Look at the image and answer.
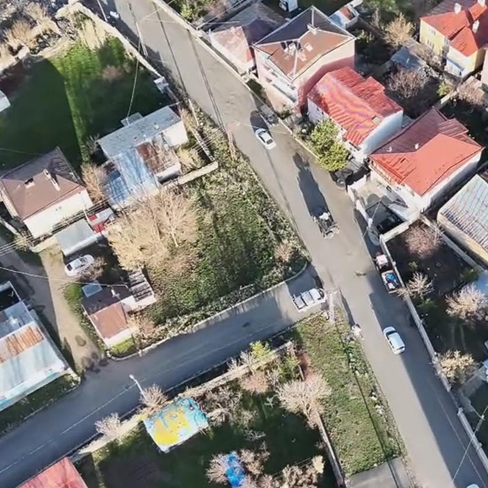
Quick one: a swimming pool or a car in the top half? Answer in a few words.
car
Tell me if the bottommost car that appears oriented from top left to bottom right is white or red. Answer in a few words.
white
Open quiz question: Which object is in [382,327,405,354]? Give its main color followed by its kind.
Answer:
white car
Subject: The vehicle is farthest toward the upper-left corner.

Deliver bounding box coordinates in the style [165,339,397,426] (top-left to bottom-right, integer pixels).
[107,7,122,21]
